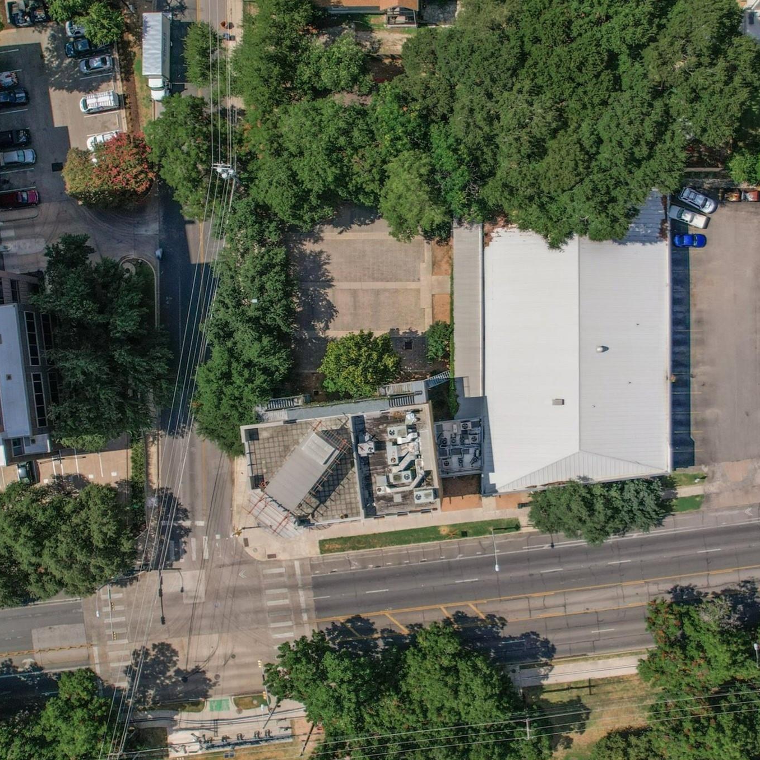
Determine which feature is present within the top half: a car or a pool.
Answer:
car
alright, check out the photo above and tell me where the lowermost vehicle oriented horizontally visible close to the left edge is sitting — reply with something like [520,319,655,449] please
[0,189,41,210]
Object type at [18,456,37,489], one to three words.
car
